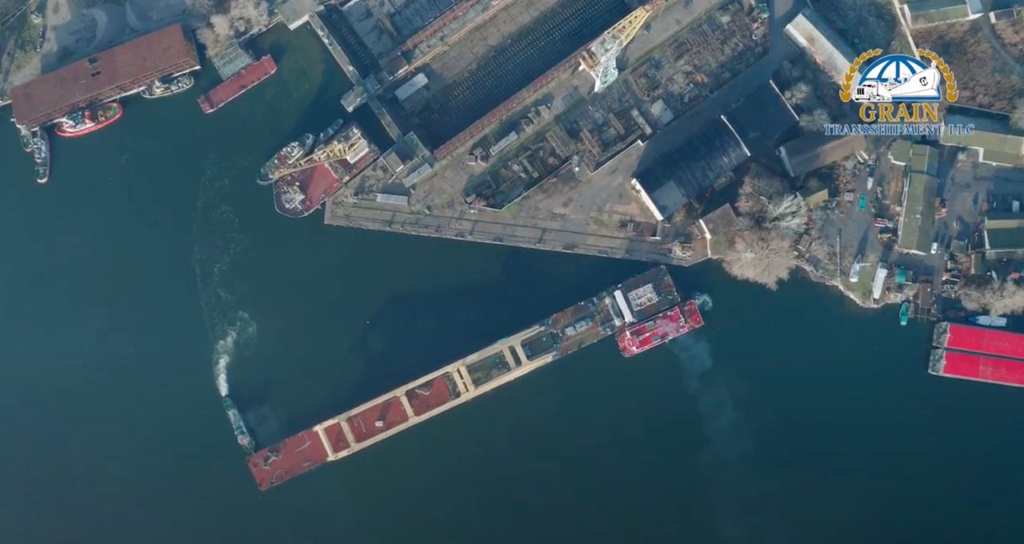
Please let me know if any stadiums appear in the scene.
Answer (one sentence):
No, I can't see a single stadium in this photo.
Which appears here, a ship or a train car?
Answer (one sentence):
There is a ship in the scene.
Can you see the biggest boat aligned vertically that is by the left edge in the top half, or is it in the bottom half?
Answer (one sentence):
You can find the biggest boat aligned vertically that is by the left edge in the top half.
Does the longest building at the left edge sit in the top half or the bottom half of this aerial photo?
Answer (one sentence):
You can find the longest building at the left edge in the top half.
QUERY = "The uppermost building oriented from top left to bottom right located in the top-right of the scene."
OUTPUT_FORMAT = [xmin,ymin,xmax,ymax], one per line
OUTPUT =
[779,14,859,92]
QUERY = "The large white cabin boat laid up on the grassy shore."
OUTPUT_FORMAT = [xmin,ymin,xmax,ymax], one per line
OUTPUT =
[873,263,890,298]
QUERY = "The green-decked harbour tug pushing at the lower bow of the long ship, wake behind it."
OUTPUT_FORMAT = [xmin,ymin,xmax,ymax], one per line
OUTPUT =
[221,395,257,454]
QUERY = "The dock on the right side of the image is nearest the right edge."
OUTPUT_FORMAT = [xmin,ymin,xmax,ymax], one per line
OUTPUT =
[910,282,941,323]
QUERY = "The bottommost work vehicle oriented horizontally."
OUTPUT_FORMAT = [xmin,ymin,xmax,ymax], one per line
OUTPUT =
[666,242,699,255]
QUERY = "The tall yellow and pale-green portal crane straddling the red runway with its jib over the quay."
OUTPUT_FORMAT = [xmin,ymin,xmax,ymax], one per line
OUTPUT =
[577,5,653,95]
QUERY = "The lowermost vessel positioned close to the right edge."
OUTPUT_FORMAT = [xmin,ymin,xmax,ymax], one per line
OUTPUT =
[924,349,1024,387]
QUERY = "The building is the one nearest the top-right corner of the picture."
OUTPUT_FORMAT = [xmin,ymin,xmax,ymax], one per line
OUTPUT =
[985,6,1019,23]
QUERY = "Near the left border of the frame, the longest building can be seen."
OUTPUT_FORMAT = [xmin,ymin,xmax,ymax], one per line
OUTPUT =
[11,23,203,134]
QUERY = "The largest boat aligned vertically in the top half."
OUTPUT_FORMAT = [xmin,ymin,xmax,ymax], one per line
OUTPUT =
[27,127,53,183]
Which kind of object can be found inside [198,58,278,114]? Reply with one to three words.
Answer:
ship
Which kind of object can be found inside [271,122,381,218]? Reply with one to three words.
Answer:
crane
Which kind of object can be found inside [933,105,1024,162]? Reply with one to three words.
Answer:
building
